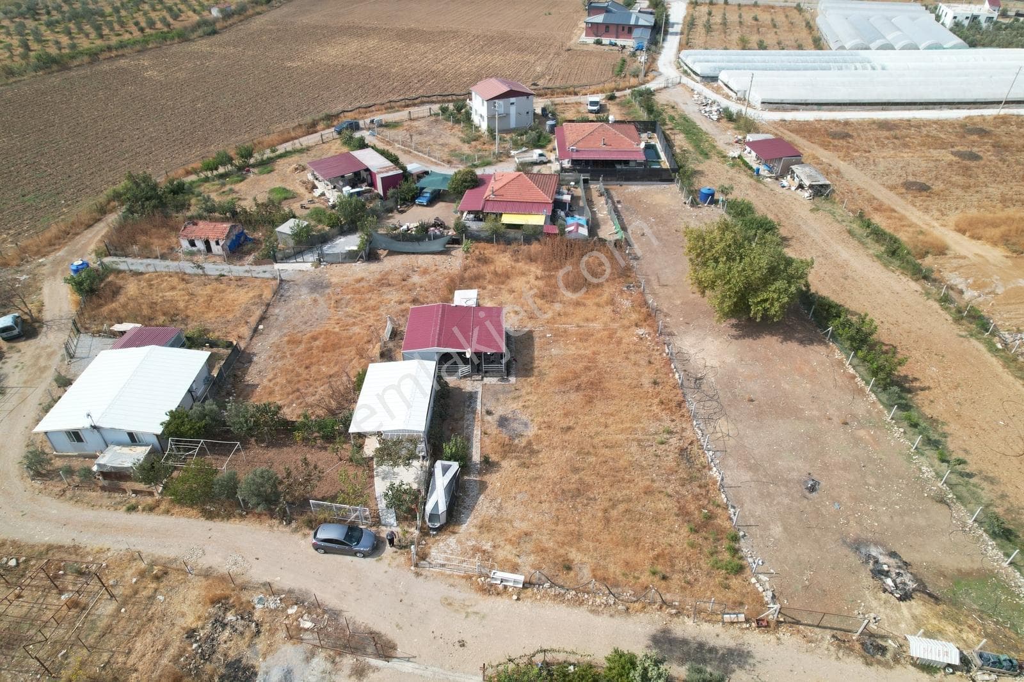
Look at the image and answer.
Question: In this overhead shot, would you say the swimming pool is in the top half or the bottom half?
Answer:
top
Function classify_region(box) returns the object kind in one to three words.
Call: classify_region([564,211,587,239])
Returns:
shed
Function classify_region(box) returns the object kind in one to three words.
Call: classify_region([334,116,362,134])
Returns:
car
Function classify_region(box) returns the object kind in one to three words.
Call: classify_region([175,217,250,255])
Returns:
shed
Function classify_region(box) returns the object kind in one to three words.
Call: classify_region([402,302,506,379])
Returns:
house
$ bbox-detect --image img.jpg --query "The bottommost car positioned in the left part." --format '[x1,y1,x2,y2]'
[307,525,378,561]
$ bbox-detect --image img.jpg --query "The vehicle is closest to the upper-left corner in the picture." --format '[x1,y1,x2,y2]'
[0,316,24,338]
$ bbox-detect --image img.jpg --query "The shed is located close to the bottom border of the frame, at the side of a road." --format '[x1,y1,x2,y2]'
[903,625,969,672]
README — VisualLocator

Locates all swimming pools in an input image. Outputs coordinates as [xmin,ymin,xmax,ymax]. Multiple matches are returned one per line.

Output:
[641,141,669,169]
